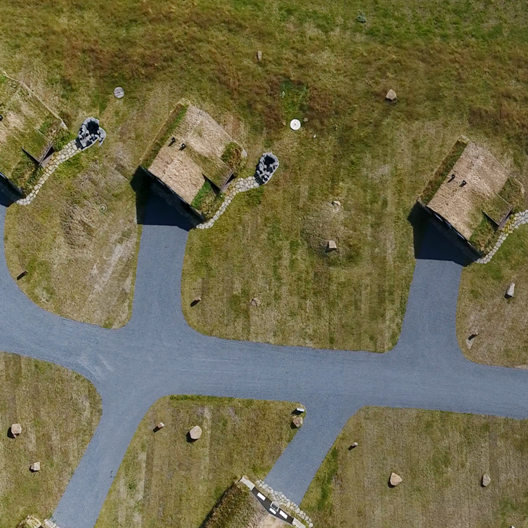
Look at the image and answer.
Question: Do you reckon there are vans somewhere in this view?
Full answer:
No, there isn't any van down there.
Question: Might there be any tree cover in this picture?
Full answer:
No, there's no tree cover in this view.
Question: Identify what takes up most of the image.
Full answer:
The largest share of the image is taken up by grass.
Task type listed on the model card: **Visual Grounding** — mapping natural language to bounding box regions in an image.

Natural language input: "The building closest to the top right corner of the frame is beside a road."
[417,134,528,257]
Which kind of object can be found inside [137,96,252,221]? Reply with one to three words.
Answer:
house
